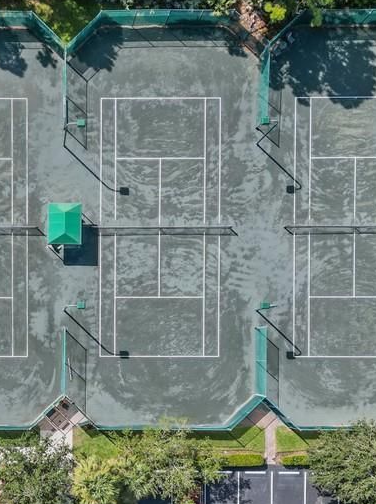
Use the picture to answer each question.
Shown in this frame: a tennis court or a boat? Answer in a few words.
tennis court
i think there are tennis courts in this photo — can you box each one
[64,27,257,426]
[256,27,376,426]
[0,27,65,425]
